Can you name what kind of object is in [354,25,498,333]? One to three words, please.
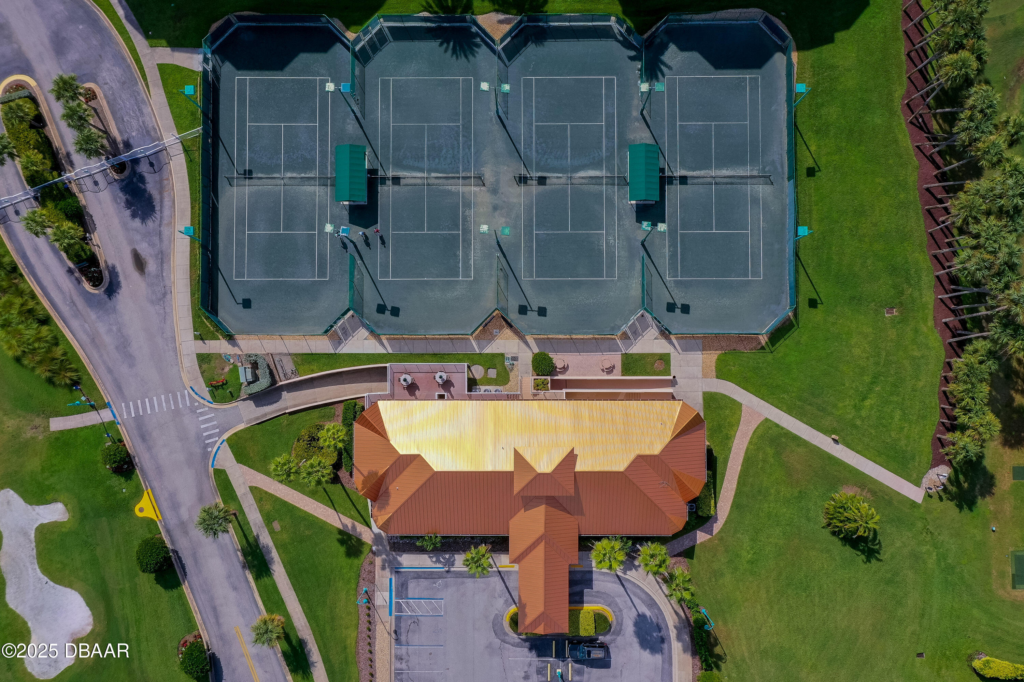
tennis court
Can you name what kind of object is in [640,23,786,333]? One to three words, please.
tennis court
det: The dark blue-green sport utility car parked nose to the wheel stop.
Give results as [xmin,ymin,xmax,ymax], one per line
[567,641,608,664]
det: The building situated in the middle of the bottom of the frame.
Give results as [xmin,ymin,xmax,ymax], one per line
[353,398,707,635]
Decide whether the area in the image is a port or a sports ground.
sports ground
